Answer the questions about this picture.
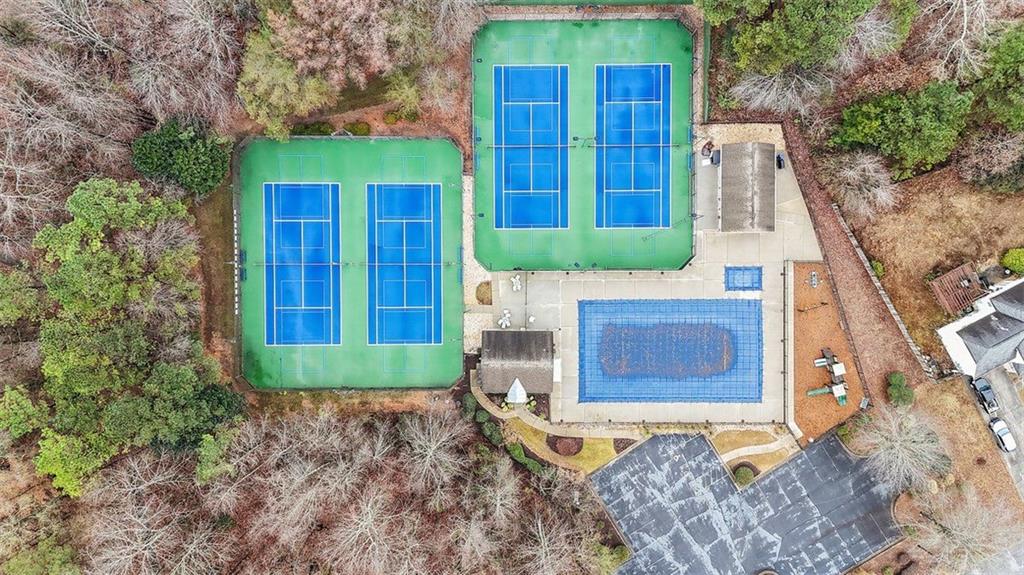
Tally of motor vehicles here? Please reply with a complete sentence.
The photo contains 2 motor vehicles.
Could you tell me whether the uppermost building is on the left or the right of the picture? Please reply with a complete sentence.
The uppermost building is on the right side of the image.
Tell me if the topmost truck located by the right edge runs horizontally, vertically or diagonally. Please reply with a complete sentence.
What the image shows is the topmost truck located by the right edge lying diagonally.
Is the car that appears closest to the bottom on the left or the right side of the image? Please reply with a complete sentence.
The car that appears closest to the bottom is on the right side of the image.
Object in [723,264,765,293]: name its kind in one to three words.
swimming pool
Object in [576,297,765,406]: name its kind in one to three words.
swimming pool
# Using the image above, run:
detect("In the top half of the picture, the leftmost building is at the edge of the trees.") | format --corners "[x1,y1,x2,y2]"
[719,140,776,232]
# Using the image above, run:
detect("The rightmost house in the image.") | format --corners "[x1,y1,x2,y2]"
[936,272,1024,391]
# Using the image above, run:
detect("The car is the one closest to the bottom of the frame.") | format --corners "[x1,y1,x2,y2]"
[991,419,1016,454]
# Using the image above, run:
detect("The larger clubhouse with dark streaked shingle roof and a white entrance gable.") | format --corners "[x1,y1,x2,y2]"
[480,329,554,405]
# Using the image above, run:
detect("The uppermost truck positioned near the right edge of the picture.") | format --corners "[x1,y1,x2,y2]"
[970,378,1003,416]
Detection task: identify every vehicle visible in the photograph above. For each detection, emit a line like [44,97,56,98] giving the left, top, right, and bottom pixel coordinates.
[970,378,1003,416]
[991,419,1016,454]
